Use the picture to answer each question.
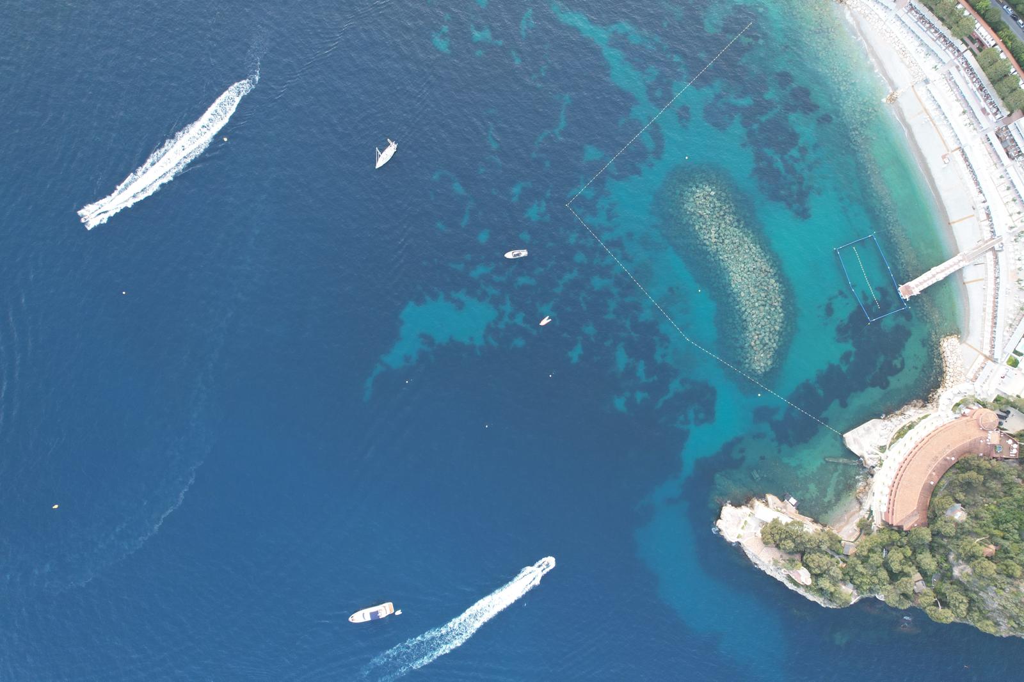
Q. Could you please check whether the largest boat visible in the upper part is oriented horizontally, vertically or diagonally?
diagonally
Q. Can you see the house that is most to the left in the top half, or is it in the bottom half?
bottom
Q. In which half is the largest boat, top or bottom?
bottom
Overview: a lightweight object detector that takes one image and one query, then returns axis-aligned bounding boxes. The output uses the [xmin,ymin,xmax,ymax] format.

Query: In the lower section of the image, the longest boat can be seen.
[346,602,396,624]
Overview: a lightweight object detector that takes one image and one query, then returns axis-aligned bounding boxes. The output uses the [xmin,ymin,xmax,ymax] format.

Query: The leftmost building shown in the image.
[750,499,800,525]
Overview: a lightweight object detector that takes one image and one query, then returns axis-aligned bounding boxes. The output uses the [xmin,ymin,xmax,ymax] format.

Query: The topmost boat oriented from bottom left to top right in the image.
[374,138,395,168]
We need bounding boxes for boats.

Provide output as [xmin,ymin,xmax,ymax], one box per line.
[77,214,90,222]
[346,602,396,624]
[374,138,395,168]
[503,249,528,258]
[542,561,552,569]
[539,315,551,325]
